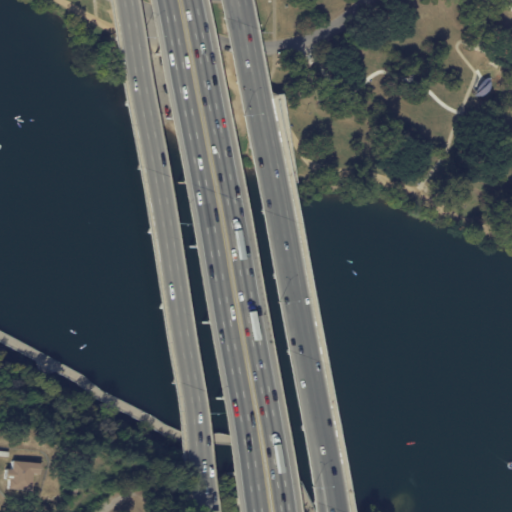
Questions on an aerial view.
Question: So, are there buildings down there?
Yes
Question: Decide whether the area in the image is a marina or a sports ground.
marina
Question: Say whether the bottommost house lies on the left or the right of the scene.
left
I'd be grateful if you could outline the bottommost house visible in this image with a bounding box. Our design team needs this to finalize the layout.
[2,461,42,490]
